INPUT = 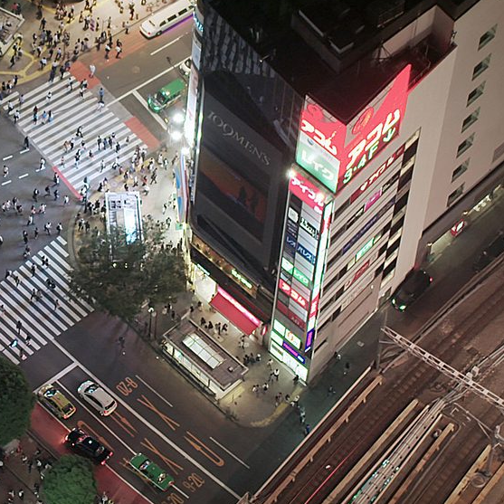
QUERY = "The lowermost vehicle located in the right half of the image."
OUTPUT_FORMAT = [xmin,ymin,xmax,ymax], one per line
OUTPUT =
[392,262,437,308]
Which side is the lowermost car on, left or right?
left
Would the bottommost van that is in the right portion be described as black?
Yes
